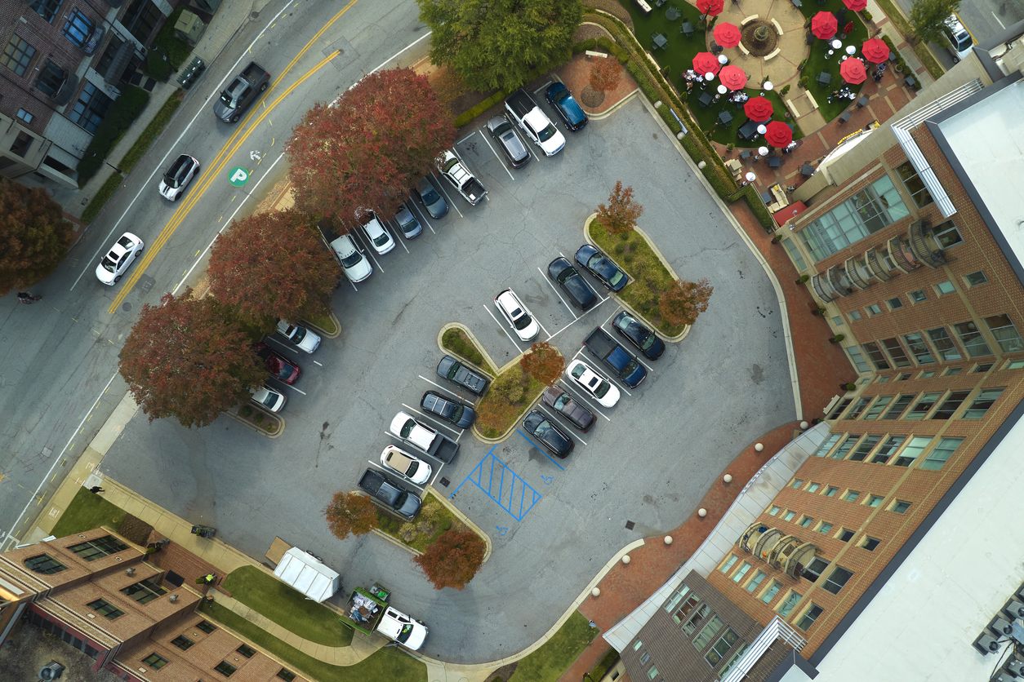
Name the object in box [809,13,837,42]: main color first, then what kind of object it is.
red umbrella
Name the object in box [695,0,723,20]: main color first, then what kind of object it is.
red umbrella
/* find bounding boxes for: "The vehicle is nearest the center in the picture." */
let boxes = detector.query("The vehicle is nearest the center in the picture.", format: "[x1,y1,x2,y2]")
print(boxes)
[495,288,537,340]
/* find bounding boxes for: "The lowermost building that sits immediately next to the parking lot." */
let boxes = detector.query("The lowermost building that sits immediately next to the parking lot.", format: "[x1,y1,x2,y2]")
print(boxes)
[0,526,311,682]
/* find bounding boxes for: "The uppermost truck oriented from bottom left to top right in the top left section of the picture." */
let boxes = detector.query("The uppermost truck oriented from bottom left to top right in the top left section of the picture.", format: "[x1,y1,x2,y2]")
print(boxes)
[214,57,271,120]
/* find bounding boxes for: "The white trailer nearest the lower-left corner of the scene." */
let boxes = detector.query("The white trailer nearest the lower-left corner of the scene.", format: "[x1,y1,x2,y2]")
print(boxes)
[266,537,345,606]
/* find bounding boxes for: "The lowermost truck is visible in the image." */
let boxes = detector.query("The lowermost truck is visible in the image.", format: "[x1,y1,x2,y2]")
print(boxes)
[340,586,428,651]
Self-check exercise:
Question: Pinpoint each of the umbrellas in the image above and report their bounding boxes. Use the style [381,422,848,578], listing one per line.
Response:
[719,65,746,93]
[692,52,720,79]
[809,13,837,42]
[763,121,792,149]
[839,0,867,13]
[744,96,772,123]
[861,39,889,65]
[837,58,866,86]
[714,23,742,51]
[695,0,723,20]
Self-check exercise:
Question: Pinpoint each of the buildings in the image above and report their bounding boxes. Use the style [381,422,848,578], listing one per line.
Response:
[592,69,1024,682]
[0,0,178,200]
[0,526,311,682]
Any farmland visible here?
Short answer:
No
